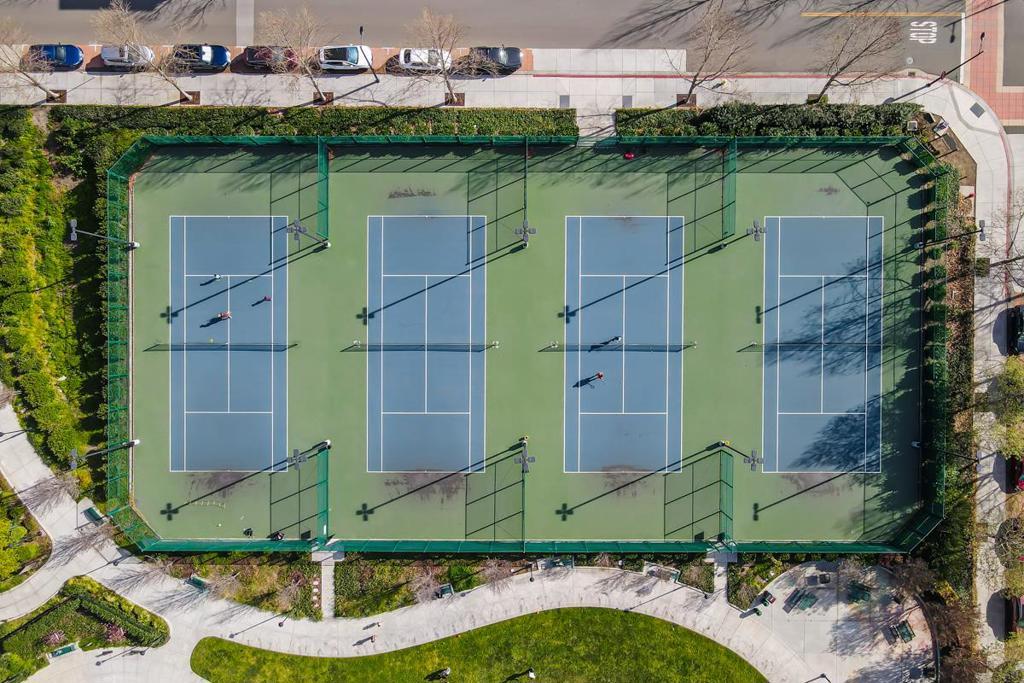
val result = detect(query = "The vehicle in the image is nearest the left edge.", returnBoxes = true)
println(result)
[30,44,83,69]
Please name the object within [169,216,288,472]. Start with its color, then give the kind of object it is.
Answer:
blue tennis court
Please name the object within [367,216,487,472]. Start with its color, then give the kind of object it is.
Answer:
blue tennis court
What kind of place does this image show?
sports ground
